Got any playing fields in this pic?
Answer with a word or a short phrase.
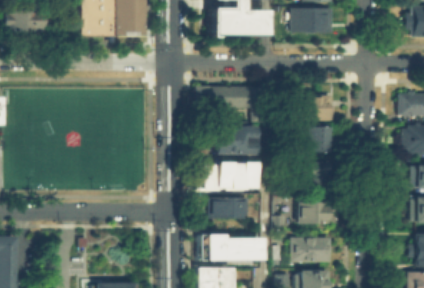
Yes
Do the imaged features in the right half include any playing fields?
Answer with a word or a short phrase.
No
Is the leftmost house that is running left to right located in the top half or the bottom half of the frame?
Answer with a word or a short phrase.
top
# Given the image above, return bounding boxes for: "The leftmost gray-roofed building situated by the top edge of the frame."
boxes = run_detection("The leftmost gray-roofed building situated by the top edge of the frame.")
[2,12,48,32]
